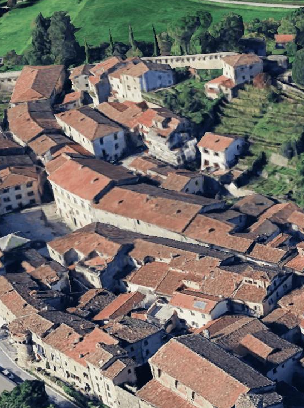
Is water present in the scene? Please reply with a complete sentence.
No, the scene doesn't show any water.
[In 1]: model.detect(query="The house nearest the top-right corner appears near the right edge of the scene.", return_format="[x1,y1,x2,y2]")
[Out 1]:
[276,34,296,50]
